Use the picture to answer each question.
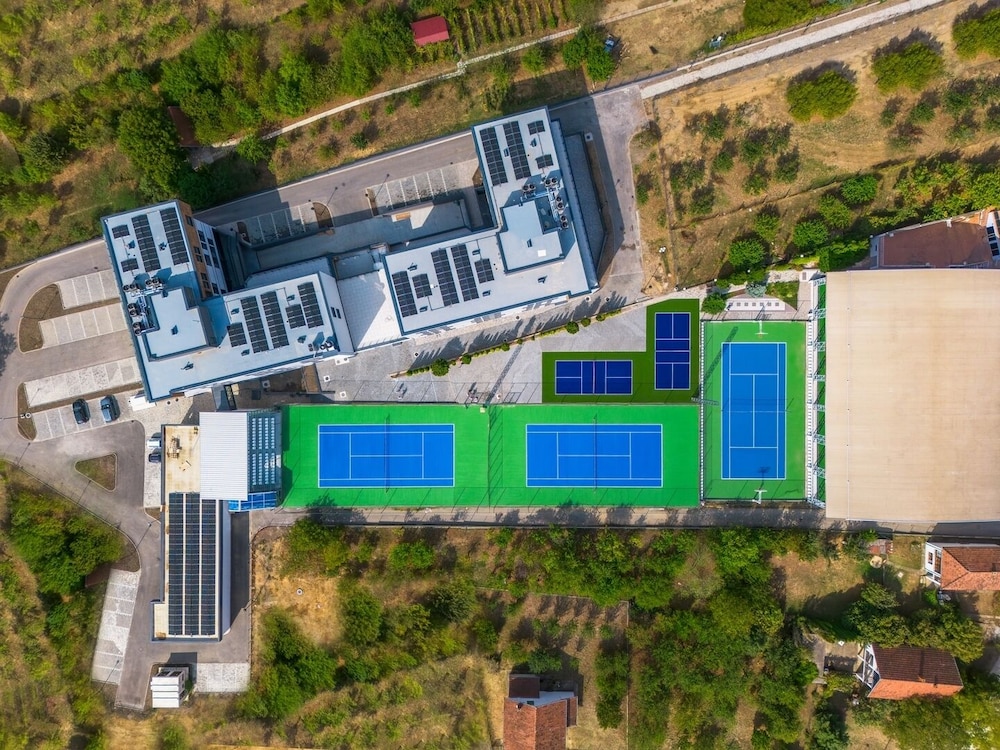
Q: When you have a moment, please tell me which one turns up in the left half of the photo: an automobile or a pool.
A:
automobile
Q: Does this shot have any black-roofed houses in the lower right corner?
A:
No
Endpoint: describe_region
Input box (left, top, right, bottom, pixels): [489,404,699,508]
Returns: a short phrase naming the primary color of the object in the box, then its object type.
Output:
green tennis court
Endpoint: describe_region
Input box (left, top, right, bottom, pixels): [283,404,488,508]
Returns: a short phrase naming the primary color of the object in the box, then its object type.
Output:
green tennis court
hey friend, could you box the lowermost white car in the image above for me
[146,438,161,450]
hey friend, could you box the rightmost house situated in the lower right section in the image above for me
[916,537,1000,591]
